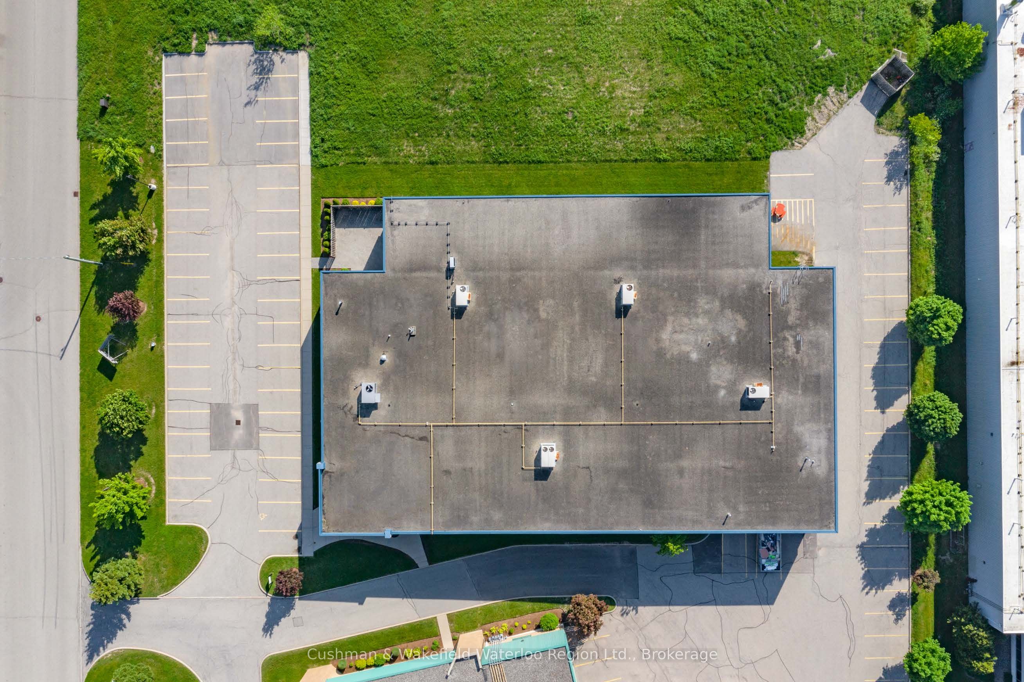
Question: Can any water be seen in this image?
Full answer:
No, water can't be seen anywhere here.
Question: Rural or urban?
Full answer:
The area shown here is urban.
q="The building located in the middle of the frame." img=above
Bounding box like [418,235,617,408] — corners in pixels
[318,193,838,537]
